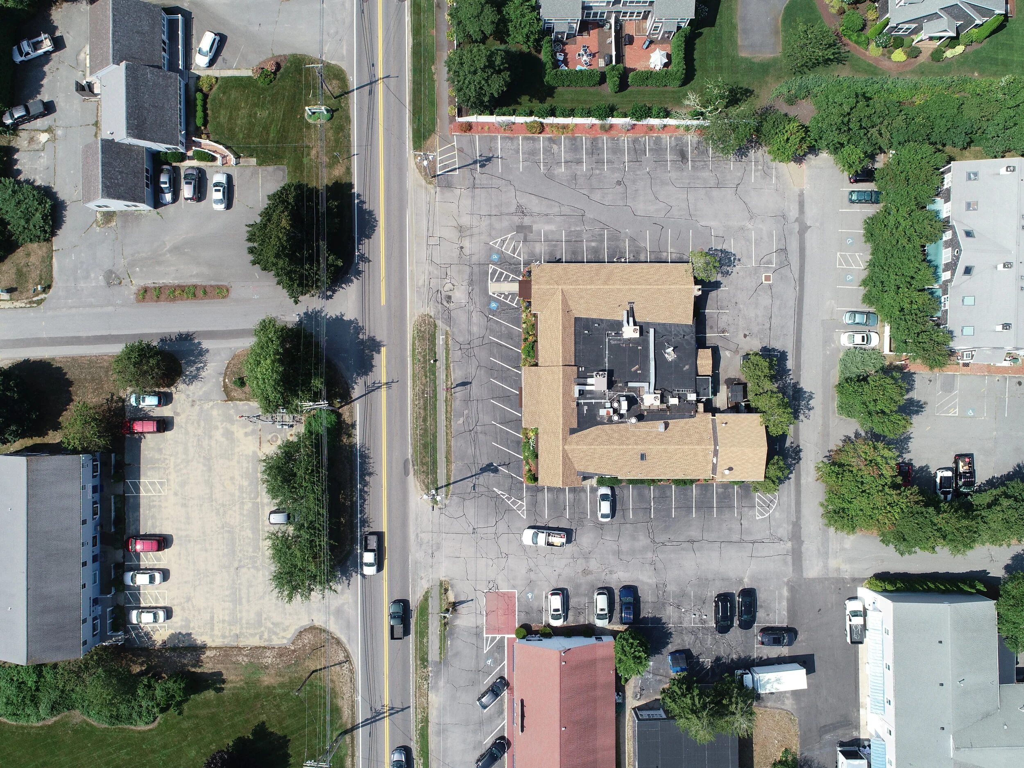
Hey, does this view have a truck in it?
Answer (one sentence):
Yes, a truck is visible in the scene.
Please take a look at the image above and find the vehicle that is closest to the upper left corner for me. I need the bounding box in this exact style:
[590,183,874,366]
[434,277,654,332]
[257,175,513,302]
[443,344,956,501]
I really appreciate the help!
[12,30,57,65]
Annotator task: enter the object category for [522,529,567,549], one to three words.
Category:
vehicle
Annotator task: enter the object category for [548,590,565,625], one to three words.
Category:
car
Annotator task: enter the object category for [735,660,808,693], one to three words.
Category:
truck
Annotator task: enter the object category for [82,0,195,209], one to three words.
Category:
building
